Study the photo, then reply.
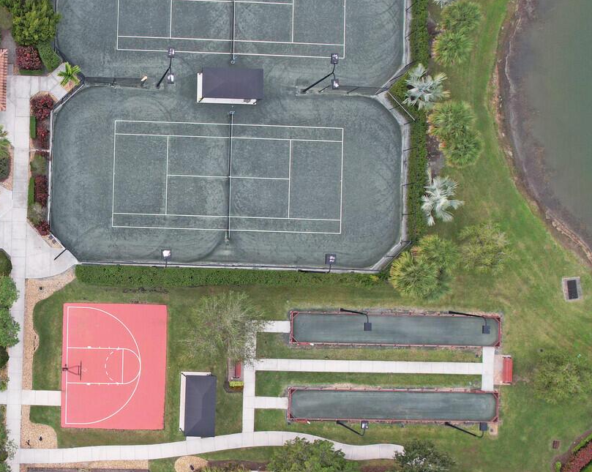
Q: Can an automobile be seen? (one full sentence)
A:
No, there appears to be no automobile in this shot.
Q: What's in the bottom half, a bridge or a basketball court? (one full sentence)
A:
You can see a basketball court in the bottom half.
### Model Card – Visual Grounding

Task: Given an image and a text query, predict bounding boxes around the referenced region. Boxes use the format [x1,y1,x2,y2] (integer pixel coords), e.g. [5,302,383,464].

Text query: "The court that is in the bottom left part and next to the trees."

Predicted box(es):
[61,303,167,430]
